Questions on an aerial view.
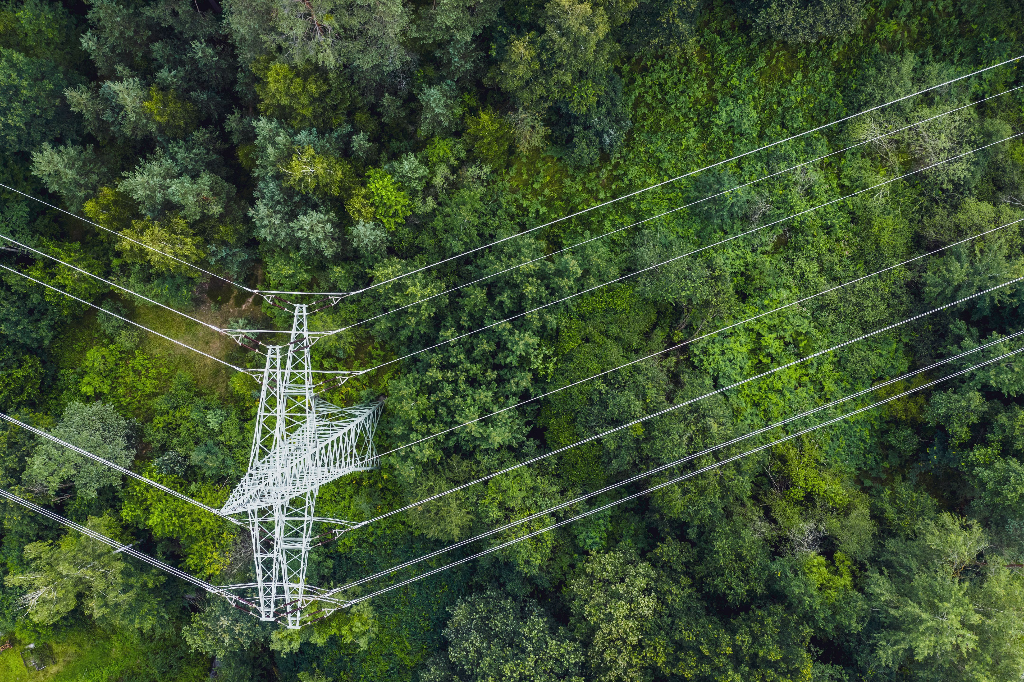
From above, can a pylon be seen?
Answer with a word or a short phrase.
Yes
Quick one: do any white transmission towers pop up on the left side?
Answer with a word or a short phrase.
Yes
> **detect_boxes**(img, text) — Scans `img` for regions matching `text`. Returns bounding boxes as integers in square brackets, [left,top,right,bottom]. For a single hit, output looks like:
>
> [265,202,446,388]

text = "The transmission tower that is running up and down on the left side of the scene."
[214,306,390,630]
